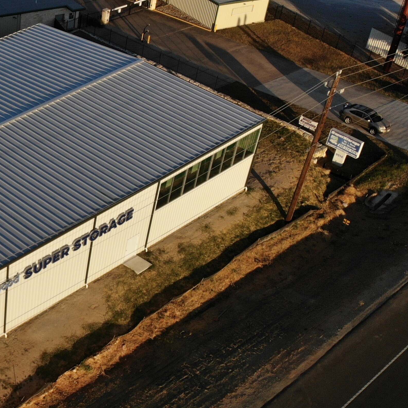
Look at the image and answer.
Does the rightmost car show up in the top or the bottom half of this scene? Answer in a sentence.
You can find the rightmost car in the top half.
